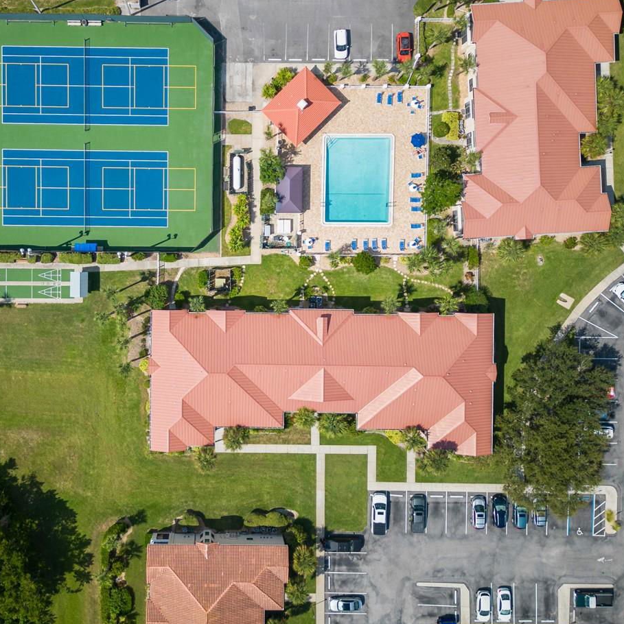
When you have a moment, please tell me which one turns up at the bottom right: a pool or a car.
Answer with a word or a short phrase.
car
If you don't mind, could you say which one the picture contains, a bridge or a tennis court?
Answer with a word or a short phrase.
tennis court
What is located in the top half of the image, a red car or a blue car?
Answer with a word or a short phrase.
red car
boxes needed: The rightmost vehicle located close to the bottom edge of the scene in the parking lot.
[576,592,616,611]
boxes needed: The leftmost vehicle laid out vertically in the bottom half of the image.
[372,493,391,537]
